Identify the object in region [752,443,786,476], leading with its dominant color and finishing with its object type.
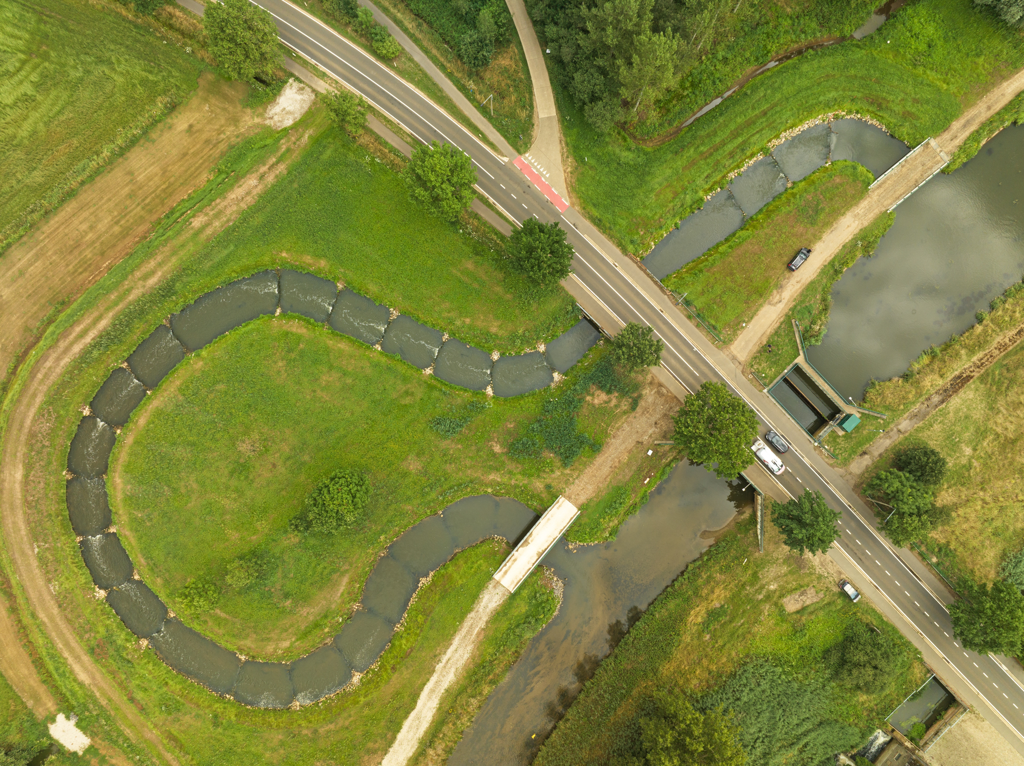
white van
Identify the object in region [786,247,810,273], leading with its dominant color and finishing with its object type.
gray car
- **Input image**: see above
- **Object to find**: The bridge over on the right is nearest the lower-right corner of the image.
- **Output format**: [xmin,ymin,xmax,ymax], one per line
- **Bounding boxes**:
[713,390,814,551]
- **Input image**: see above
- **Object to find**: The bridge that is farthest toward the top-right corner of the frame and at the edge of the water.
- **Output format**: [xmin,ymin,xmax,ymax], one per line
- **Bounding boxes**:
[868,135,954,212]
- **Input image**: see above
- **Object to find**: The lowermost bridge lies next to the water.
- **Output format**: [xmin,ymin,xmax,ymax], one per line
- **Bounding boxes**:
[492,495,580,594]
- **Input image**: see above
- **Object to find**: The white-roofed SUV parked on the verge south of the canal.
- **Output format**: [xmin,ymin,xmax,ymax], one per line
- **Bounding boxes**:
[836,579,860,603]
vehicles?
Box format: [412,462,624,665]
[764,431,789,455]
[752,443,786,476]
[836,579,860,603]
[786,247,810,273]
